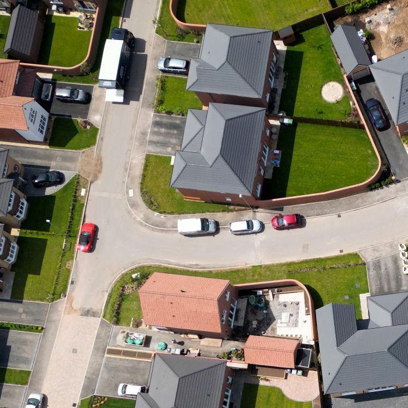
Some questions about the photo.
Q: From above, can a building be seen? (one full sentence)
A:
Yes, looking at the shot, I can spot a building.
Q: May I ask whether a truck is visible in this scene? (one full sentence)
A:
Yes, the photo shows a truck.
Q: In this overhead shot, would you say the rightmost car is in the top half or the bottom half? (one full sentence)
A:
The rightmost car is in the top half of the image.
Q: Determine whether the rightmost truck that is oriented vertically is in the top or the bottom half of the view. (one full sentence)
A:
The rightmost truck that is oriented vertically sits in the top half of the picture.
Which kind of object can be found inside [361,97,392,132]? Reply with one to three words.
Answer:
car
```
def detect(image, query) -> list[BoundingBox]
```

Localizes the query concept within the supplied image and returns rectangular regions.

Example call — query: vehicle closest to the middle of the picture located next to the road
[177,217,217,235]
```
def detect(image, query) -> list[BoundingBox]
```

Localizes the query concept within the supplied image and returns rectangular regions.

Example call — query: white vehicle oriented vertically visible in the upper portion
[99,35,132,109]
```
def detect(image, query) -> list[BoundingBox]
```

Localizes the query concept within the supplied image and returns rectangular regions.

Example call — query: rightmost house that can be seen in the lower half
[315,292,408,398]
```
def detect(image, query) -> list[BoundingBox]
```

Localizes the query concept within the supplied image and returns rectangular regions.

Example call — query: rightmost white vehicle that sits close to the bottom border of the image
[118,382,148,397]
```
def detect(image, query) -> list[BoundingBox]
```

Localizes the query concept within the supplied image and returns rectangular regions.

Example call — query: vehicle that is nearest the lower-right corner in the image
[272,214,303,230]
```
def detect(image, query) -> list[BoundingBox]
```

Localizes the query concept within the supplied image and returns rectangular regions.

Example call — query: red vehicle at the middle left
[78,223,99,254]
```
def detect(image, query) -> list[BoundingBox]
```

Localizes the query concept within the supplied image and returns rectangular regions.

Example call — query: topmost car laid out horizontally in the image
[157,57,188,75]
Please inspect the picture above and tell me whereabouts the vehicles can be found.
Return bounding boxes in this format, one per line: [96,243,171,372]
[27,392,47,408]
[42,80,57,98]
[157,57,188,75]
[230,218,264,236]
[361,97,392,132]
[118,382,148,397]
[78,223,99,254]
[177,217,217,235]
[32,172,66,190]
[272,214,303,230]
[99,35,132,109]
